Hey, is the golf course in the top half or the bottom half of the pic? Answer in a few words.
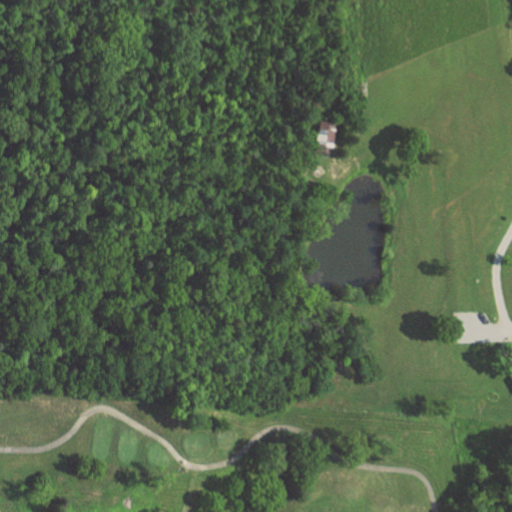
bottom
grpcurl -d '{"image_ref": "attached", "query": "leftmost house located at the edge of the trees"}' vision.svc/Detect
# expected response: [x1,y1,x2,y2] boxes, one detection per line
[318,121,337,153]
